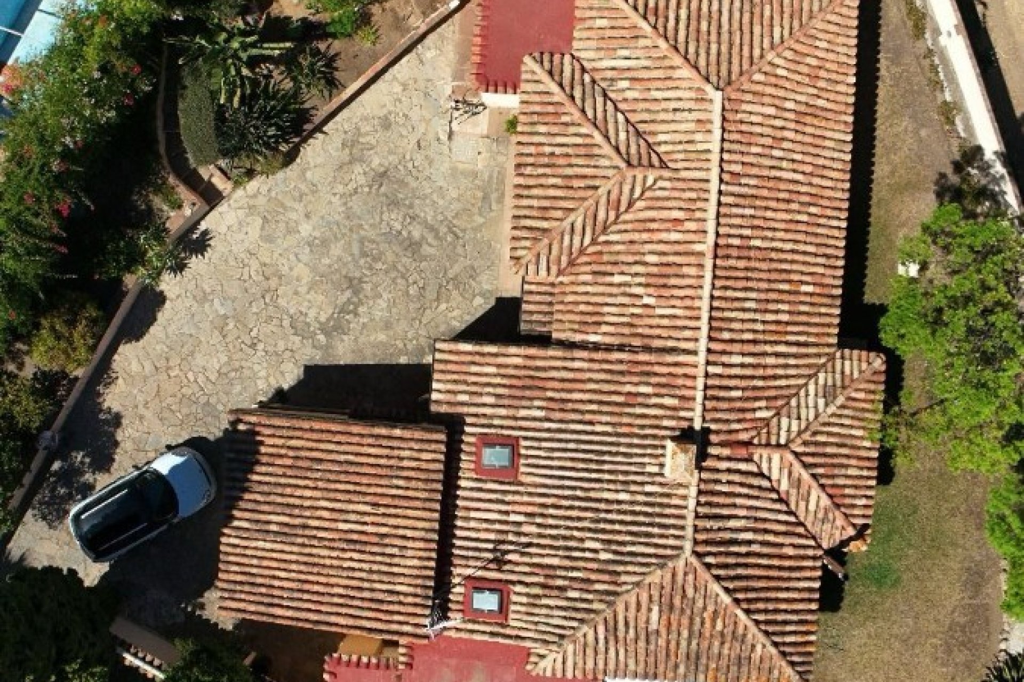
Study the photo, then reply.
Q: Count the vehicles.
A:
1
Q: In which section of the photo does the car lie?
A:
bottom left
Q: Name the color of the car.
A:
black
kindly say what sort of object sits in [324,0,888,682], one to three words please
house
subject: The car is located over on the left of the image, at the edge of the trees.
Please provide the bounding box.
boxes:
[67,443,222,561]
